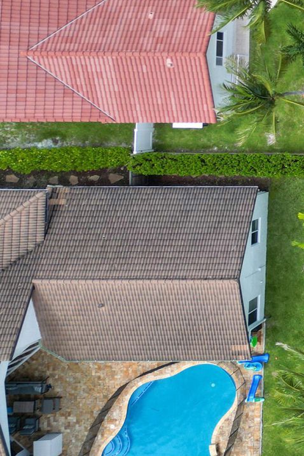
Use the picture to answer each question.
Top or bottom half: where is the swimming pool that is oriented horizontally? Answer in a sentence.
The swimming pool that is oriented horizontally is in the bottom half of the image.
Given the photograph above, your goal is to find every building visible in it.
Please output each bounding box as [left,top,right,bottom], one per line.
[0,182,268,456]
[0,0,236,129]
